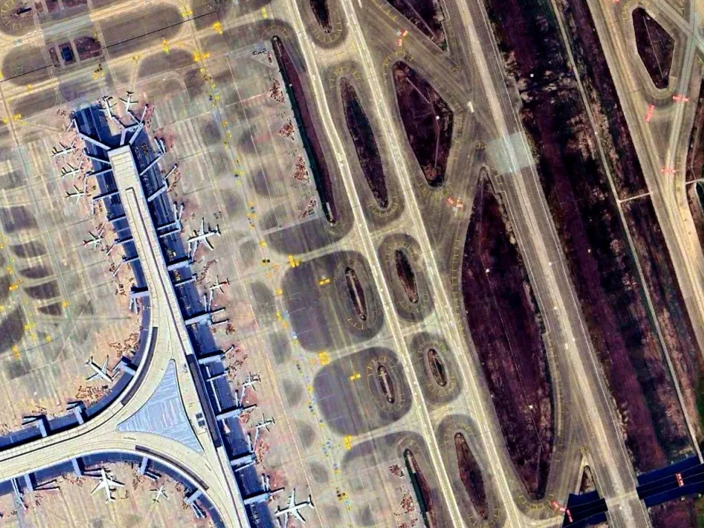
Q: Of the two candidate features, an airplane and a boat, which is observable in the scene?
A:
airplane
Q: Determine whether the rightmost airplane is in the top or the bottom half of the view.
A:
bottom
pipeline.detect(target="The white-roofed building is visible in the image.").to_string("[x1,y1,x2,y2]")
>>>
[0,145,251,528]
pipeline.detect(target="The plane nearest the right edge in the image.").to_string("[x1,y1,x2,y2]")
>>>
[276,494,313,527]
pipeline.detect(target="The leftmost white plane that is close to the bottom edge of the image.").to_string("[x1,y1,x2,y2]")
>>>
[91,469,124,505]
